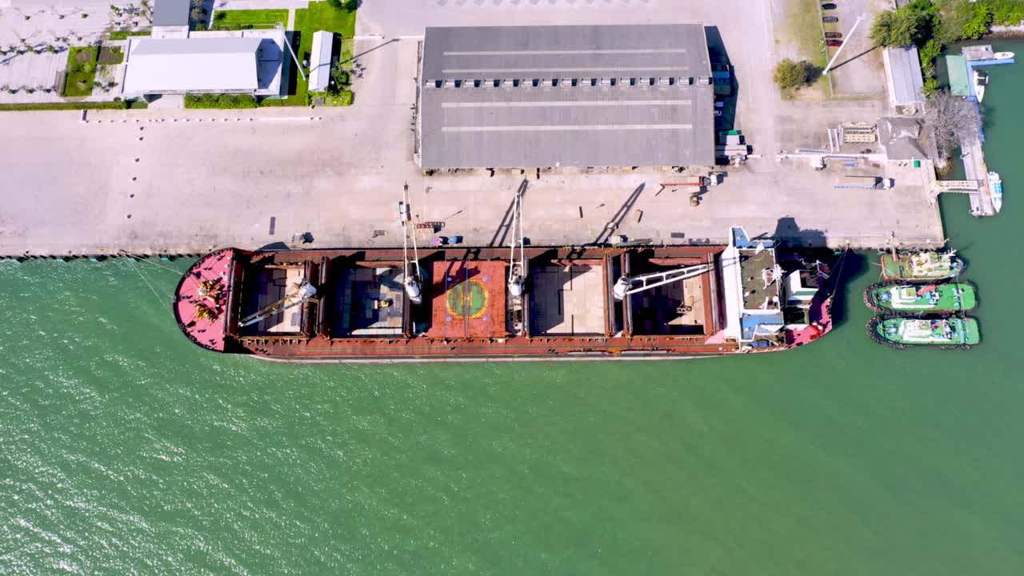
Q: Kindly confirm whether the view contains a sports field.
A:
No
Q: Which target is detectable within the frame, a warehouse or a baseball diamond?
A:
warehouse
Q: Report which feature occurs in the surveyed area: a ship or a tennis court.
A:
ship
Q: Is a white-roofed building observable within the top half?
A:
Yes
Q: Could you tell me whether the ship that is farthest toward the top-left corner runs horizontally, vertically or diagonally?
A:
horizontally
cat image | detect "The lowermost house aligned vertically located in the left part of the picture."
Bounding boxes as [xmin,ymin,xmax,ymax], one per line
[309,30,333,95]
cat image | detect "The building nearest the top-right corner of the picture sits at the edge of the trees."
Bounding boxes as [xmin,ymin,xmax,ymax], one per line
[944,55,971,99]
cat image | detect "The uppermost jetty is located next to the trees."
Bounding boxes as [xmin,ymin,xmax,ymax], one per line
[960,45,993,62]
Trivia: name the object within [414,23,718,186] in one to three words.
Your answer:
warehouse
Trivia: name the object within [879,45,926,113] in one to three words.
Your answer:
shed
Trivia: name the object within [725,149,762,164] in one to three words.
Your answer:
work vehicle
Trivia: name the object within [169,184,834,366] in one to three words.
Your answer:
ship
